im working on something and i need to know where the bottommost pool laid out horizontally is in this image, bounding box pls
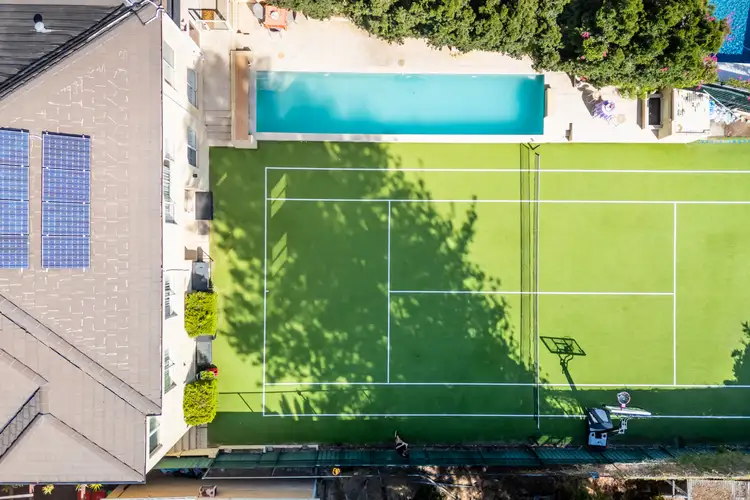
[250,72,544,139]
